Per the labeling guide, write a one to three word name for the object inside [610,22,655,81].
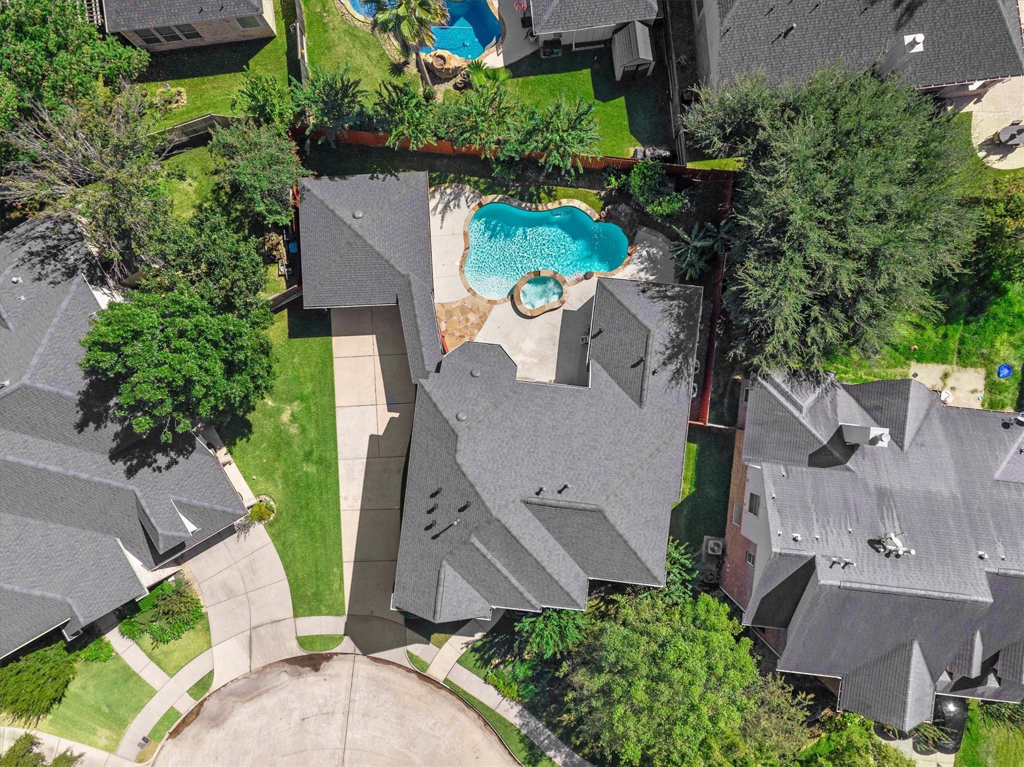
shed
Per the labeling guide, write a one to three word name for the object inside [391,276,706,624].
house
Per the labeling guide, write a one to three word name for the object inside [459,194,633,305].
swimming pool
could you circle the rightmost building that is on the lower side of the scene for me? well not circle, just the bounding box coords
[719,371,1024,732]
